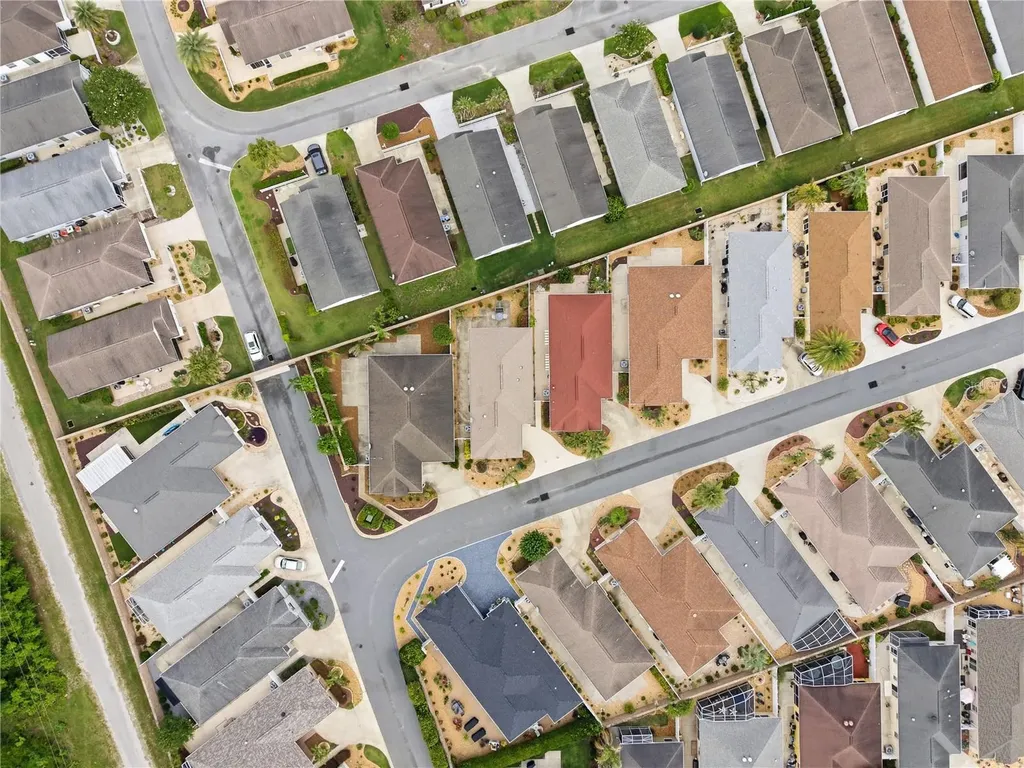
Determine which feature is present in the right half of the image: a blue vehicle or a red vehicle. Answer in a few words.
red vehicle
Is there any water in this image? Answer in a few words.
No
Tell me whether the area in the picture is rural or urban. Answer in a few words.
urban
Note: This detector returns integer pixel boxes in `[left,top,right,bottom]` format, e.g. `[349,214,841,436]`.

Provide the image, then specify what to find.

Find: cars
[308,143,330,176]
[1014,367,1024,399]
[274,556,306,571]
[947,294,979,319]
[243,330,266,362]
[797,349,824,378]
[873,321,902,348]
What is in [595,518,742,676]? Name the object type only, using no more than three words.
house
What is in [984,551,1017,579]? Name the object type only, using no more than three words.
tent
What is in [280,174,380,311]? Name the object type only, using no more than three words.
house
